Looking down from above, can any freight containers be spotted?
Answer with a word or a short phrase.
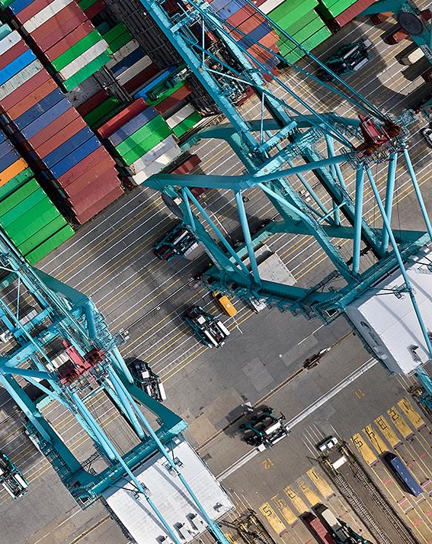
Yes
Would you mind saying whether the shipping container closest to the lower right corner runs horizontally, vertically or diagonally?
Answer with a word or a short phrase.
diagonally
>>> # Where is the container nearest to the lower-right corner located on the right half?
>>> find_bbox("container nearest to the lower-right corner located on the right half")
[385,453,424,496]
